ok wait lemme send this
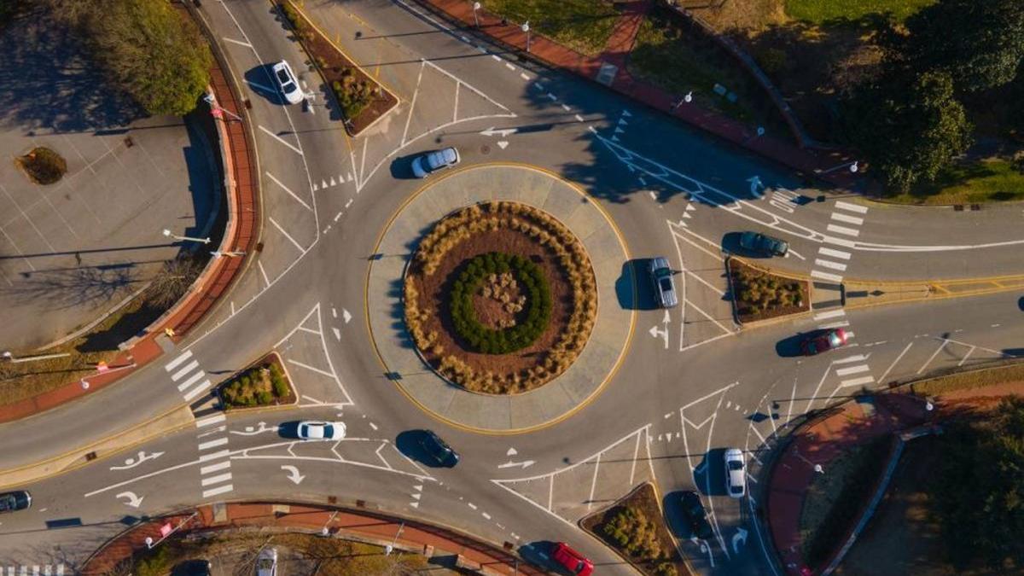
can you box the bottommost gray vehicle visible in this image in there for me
[254,547,278,576]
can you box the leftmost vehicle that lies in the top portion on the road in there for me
[270,57,307,108]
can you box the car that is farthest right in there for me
[798,325,848,356]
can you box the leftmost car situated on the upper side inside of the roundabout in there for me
[410,146,463,178]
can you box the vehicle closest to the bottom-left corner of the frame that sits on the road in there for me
[0,487,38,512]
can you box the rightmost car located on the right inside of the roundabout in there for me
[648,256,680,310]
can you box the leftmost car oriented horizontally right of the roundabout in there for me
[738,232,790,259]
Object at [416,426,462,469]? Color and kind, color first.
black car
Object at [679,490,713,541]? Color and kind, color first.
black car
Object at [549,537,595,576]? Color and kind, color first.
red car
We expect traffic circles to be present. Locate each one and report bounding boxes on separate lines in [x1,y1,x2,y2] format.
[320,118,682,479]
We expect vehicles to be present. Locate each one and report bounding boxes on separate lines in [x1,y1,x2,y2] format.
[679,490,713,541]
[0,487,38,512]
[270,57,307,108]
[798,325,848,356]
[410,146,463,178]
[738,232,790,259]
[254,547,278,576]
[648,256,680,310]
[416,426,462,469]
[721,447,747,498]
[297,419,347,441]
[549,537,595,576]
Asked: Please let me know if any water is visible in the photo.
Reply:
No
